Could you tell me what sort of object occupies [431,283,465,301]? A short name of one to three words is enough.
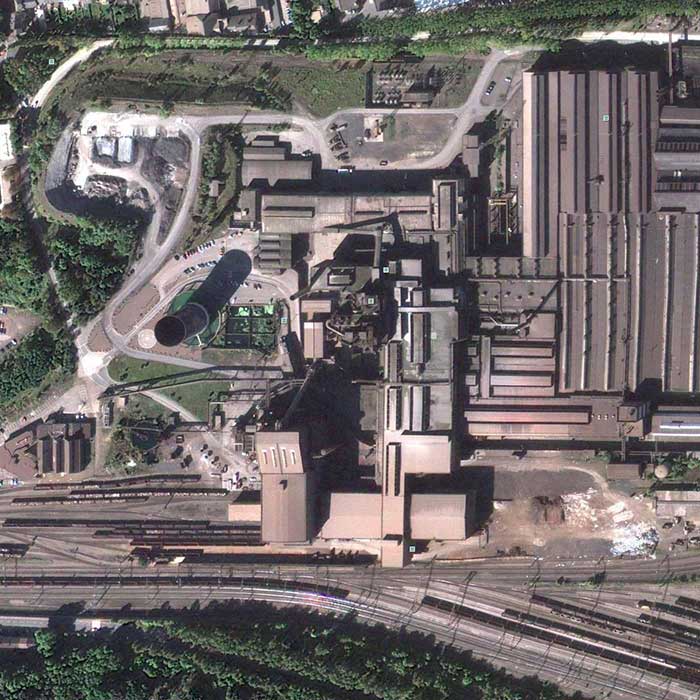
house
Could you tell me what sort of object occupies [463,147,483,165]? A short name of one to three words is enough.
building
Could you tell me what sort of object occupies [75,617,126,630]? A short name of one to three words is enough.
shed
